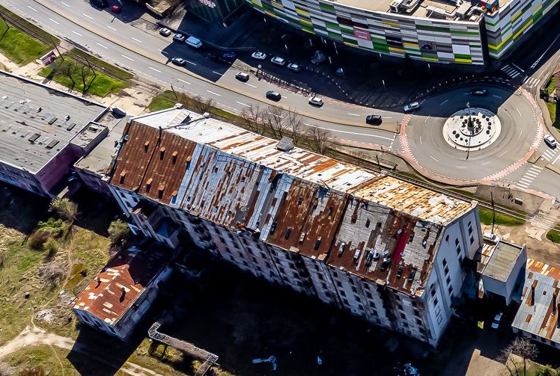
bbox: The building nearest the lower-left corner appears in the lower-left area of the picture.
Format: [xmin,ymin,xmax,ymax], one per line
[73,241,179,341]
